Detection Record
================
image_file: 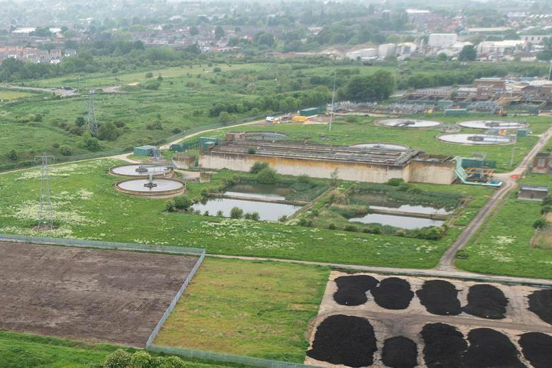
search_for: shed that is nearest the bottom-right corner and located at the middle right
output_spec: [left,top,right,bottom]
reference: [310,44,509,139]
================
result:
[518,185,549,203]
